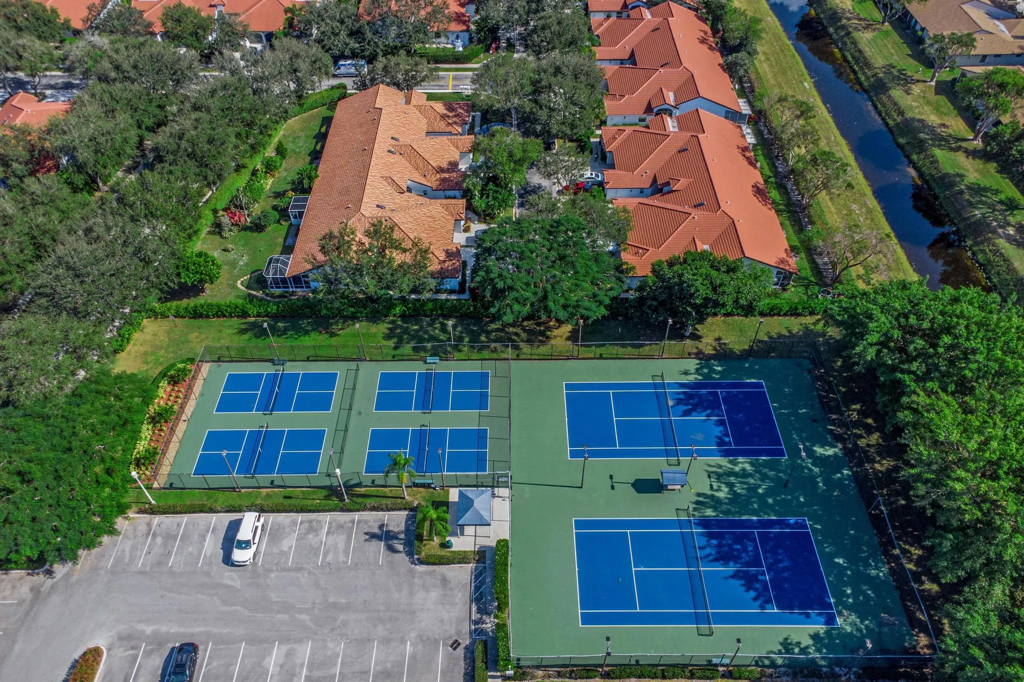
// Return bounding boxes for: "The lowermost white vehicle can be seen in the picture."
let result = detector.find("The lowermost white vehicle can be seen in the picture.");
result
[231,514,262,563]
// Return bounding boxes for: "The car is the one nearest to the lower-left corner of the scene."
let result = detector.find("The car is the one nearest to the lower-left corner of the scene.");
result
[161,640,197,682]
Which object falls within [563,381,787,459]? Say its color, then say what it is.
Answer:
blue tennis court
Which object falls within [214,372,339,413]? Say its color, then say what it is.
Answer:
blue sports court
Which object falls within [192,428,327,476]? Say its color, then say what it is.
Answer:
blue sports court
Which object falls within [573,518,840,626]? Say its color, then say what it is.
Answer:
blue tennis court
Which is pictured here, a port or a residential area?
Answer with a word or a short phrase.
residential area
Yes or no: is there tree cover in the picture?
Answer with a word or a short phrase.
Yes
